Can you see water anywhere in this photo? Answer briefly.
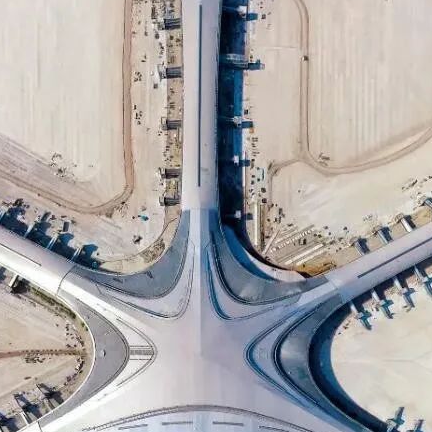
No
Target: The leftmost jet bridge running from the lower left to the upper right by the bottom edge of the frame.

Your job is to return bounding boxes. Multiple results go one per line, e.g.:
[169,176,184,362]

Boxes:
[384,405,404,432]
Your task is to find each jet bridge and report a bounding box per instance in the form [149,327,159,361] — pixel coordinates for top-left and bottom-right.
[373,226,389,242]
[370,288,392,319]
[394,213,413,231]
[68,245,84,263]
[21,212,50,239]
[0,199,21,224]
[402,417,423,432]
[217,117,254,127]
[162,169,183,182]
[162,19,183,36]
[162,120,183,134]
[217,155,250,165]
[217,59,266,71]
[162,196,182,208]
[414,266,432,296]
[36,382,54,413]
[349,300,372,329]
[219,210,253,219]
[220,6,258,21]
[384,405,404,432]
[13,392,32,426]
[392,277,415,308]
[10,275,22,288]
[45,223,68,251]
